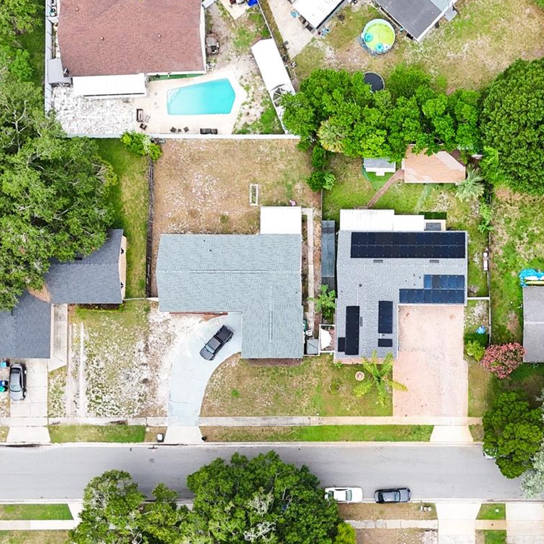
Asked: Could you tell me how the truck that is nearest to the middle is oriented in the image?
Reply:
on a diagonal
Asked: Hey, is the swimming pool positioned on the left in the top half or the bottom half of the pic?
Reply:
top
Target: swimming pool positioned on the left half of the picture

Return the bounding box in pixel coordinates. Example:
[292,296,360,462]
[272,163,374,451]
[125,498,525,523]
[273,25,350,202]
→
[135,68,247,133]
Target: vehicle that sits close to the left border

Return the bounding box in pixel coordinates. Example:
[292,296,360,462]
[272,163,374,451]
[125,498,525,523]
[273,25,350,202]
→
[6,364,24,400]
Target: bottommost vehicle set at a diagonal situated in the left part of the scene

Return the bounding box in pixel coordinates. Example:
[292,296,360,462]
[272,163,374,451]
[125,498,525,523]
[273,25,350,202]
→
[198,323,234,362]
